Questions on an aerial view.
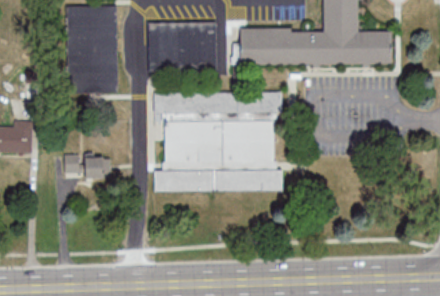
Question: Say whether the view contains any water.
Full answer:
No, no water is visible.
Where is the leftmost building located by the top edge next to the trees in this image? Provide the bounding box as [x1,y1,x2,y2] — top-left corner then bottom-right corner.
[68,6,117,94]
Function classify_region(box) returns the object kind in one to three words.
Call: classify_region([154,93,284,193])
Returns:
building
